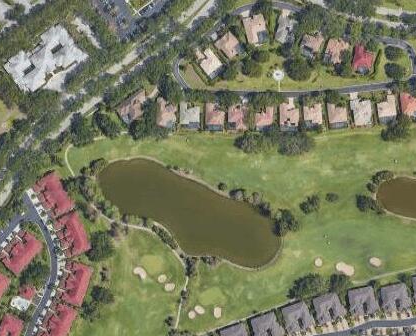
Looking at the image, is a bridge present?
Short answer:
No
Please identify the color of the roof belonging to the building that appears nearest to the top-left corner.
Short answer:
white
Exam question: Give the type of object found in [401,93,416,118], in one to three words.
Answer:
house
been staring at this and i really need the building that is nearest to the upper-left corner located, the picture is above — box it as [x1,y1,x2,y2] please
[3,22,89,92]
